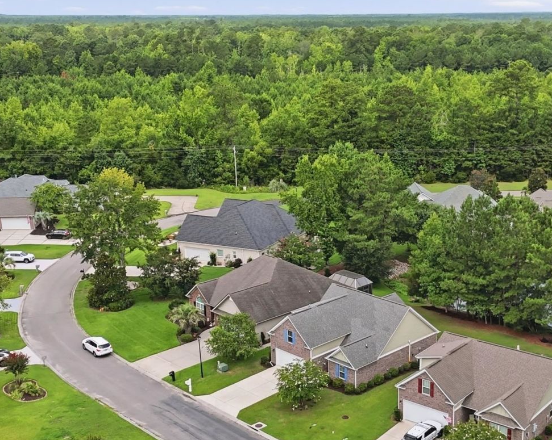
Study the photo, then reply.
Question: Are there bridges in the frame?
No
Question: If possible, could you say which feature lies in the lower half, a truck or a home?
home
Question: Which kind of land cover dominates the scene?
trees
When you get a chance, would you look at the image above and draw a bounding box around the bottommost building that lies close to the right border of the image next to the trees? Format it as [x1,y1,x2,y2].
[392,331,552,440]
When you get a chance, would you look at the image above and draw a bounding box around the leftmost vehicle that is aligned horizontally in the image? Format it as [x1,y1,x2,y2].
[1,248,38,263]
